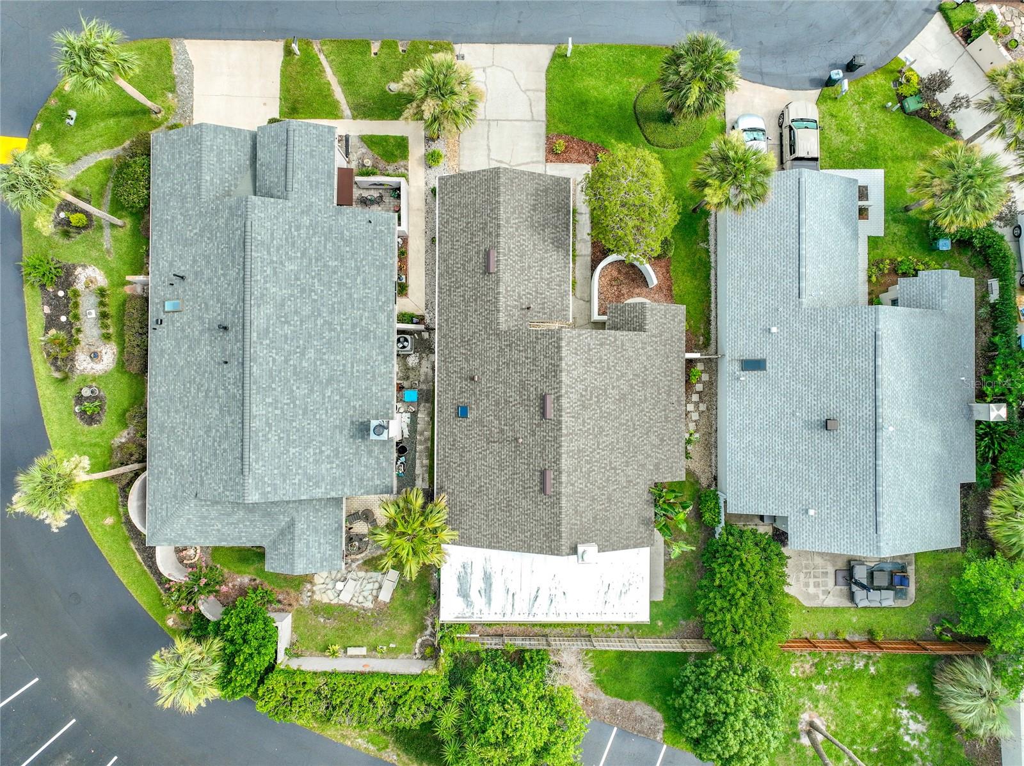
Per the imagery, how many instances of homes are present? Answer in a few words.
3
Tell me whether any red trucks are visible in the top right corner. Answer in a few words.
No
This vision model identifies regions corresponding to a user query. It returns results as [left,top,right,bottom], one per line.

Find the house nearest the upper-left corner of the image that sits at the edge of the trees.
[145,120,406,575]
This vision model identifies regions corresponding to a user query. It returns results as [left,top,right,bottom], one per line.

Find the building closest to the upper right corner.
[718,169,1007,556]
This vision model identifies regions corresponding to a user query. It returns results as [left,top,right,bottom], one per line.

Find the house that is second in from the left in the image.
[433,167,685,623]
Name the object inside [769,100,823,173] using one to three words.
truck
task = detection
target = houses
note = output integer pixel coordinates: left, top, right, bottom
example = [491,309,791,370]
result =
[433,167,685,623]
[718,169,1007,556]
[145,120,406,575]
